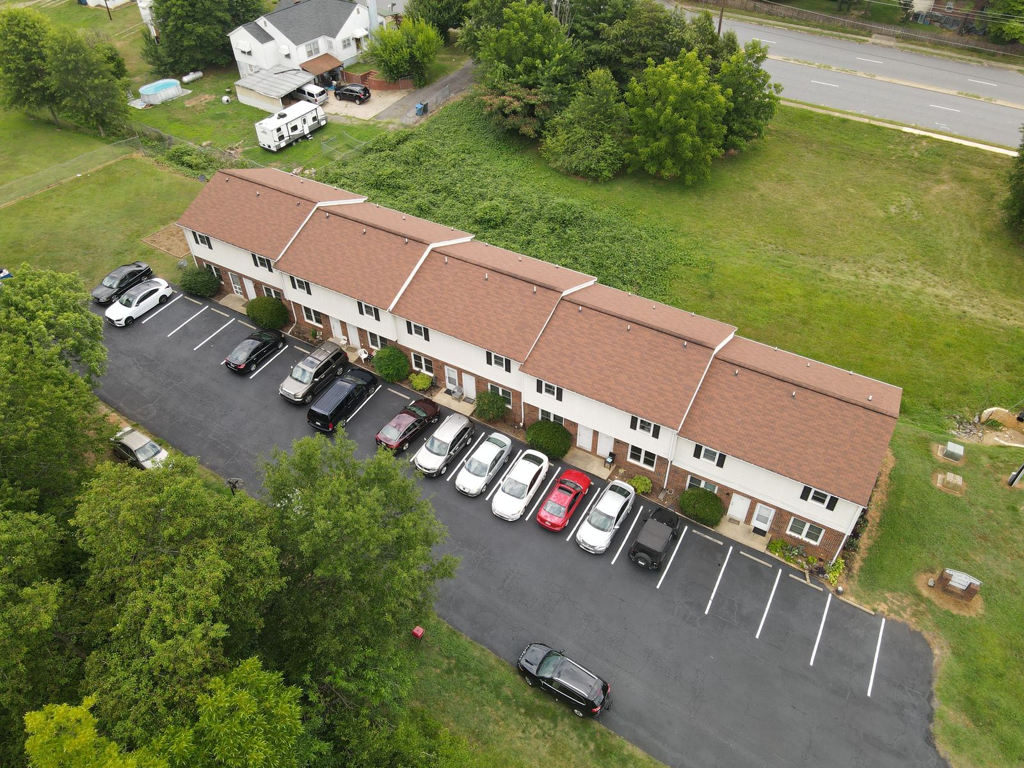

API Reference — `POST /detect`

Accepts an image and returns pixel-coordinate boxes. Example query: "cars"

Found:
[629,506,683,577]
[331,82,372,105]
[375,397,441,458]
[101,280,171,328]
[307,365,380,432]
[102,425,175,474]
[280,83,324,101]
[491,449,551,523]
[453,433,513,500]
[535,466,592,534]
[89,259,151,304]
[224,326,288,376]
[512,638,615,723]
[576,481,638,558]
[277,342,349,408]
[412,412,476,480]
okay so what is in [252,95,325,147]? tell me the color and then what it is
white vehicle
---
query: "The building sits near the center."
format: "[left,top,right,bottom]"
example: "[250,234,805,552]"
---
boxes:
[175,168,903,561]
